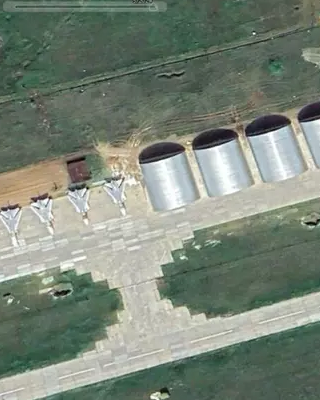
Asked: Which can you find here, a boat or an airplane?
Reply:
airplane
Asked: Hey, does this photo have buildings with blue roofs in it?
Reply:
No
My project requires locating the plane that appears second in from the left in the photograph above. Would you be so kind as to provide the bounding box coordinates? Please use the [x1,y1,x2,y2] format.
[32,195,54,236]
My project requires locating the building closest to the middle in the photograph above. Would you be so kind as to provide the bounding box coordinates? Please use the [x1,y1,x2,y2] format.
[139,150,200,211]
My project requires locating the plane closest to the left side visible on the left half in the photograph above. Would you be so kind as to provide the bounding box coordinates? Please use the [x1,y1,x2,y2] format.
[0,207,21,248]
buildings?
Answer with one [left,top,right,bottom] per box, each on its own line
[193,136,254,198]
[246,123,309,183]
[66,157,92,184]
[298,116,320,169]
[139,150,200,211]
